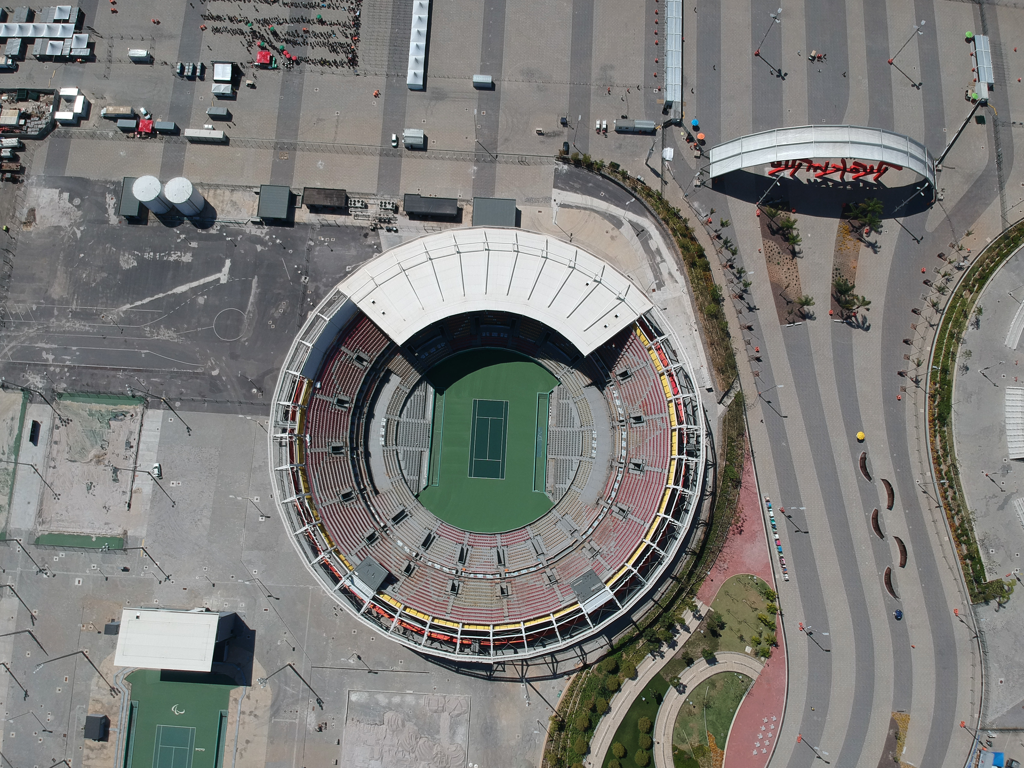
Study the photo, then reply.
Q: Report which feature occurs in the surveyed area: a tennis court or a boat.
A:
tennis court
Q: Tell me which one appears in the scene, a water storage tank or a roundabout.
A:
water storage tank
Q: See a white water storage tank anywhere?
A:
Yes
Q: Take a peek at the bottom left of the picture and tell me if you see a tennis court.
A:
Yes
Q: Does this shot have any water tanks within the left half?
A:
Yes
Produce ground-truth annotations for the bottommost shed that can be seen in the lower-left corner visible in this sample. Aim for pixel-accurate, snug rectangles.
[84,714,109,739]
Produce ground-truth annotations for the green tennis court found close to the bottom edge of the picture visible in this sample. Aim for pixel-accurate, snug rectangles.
[120,668,242,768]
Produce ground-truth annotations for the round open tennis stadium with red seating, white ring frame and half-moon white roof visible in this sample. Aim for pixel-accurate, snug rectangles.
[268,224,706,662]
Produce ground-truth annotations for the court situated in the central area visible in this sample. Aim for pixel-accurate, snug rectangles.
[399,353,580,533]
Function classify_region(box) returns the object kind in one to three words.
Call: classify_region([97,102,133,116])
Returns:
vehicle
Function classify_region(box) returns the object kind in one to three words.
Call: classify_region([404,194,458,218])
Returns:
building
